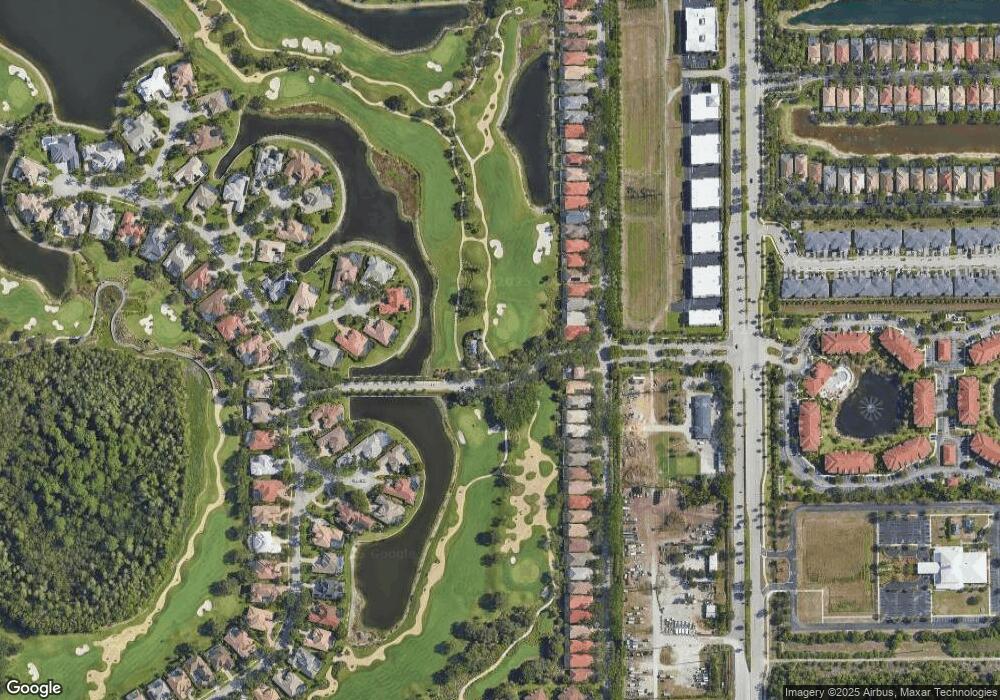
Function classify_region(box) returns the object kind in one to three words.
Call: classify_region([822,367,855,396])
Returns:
swimming pool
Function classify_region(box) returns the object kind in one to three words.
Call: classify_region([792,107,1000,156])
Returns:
pond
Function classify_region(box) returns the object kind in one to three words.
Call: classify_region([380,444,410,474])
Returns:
house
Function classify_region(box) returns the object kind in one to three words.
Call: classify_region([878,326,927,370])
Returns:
building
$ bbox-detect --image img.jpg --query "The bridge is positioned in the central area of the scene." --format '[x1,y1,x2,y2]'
[336,376,478,396]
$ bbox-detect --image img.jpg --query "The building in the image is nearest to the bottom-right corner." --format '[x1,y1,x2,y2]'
[919,547,988,590]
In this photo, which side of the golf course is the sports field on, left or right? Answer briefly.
on its right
